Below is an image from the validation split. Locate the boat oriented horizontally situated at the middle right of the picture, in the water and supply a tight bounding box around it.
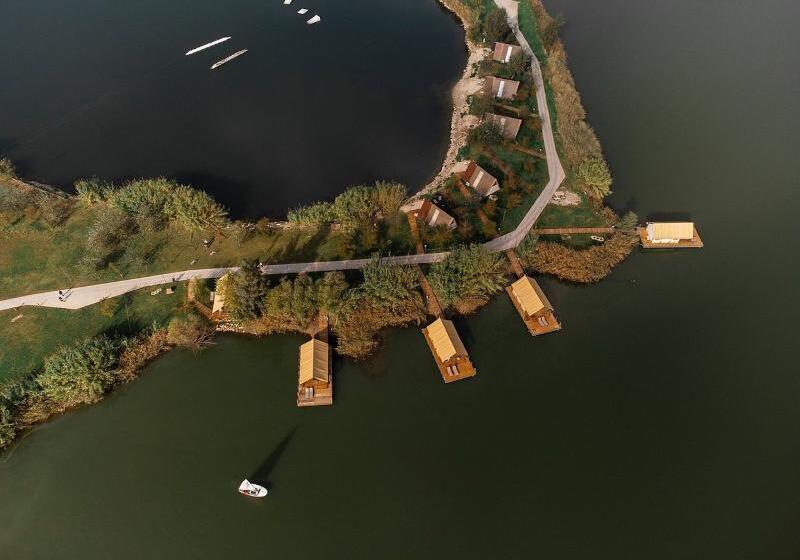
[638,222,703,249]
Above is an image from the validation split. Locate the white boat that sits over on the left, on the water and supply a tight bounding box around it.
[238,478,267,495]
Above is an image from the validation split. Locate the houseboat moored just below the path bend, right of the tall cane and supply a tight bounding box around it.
[505,274,562,337]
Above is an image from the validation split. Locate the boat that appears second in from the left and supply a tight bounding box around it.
[297,337,334,406]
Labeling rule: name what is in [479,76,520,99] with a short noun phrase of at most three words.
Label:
building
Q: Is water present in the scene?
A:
Yes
